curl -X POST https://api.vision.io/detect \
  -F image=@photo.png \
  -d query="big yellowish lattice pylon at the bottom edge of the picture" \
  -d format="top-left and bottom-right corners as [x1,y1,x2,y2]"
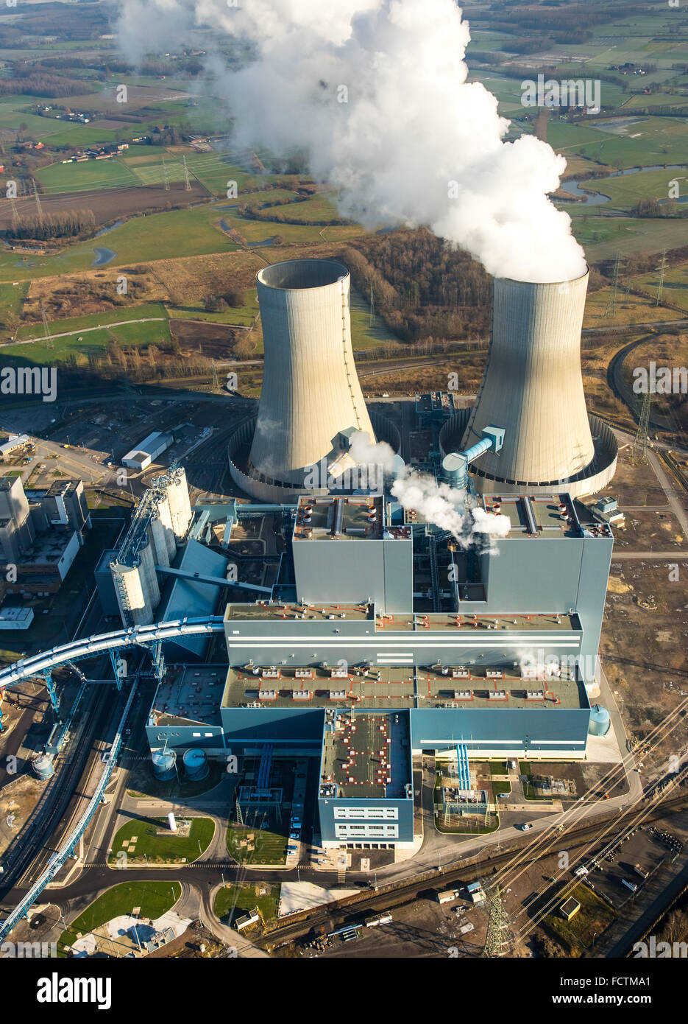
[481,885,528,983]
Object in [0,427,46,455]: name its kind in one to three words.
shed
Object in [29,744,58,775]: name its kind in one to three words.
storage tank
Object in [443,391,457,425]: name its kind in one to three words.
building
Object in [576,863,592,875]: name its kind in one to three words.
vehicle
